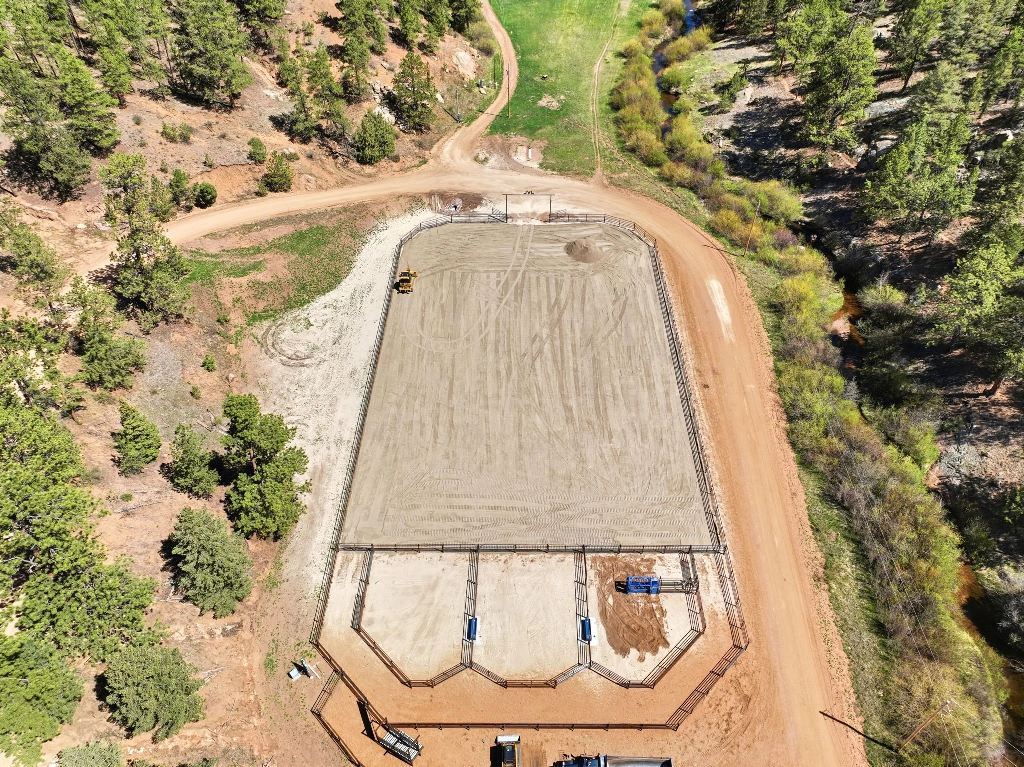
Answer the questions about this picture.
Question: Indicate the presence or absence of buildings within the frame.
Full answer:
No, there's no building here.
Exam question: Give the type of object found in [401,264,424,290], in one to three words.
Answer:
work vehicle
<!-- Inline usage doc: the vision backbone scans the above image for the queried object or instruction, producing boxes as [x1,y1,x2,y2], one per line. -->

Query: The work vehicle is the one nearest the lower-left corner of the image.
[497,738,521,767]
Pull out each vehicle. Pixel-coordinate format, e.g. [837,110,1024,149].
[497,738,521,767]
[401,264,424,290]
[559,750,674,767]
